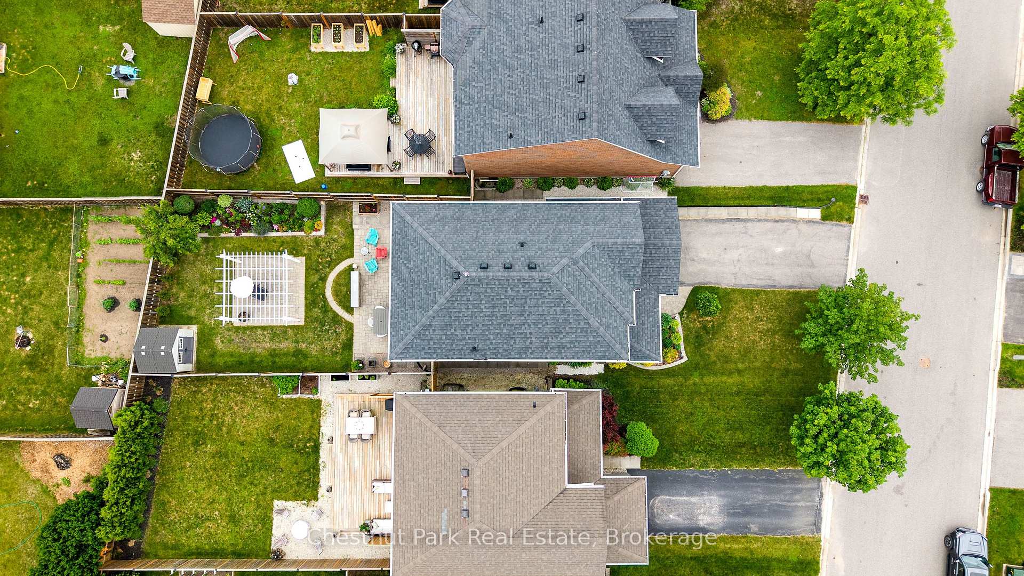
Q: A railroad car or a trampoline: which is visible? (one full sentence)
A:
It is a trampoline that can be seen here.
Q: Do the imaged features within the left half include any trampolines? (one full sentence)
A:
Yes, looking within the left half, one can make out a trampoline.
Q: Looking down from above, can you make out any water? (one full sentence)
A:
No, there is no water in the image.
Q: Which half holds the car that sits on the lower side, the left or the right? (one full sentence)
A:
The car that sits on the lower side is on the right side of the image.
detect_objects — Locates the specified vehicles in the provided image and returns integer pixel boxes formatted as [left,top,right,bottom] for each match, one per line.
[973,121,1022,214]
[943,525,993,576]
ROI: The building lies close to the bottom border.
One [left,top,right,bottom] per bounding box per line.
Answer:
[390,387,650,576]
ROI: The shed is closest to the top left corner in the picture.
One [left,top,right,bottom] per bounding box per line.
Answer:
[137,0,206,33]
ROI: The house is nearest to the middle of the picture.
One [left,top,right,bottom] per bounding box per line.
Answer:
[389,194,688,363]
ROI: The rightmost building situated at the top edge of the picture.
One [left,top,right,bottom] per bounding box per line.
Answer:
[439,0,702,178]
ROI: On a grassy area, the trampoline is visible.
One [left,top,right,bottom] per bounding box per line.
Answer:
[188,104,268,177]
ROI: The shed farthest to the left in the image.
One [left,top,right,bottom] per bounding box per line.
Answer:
[69,388,125,430]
